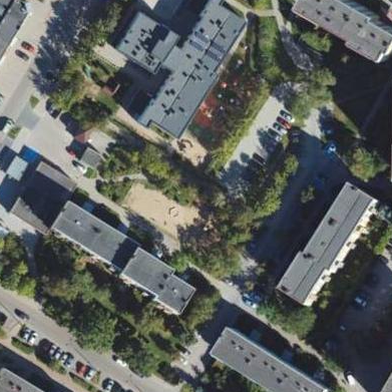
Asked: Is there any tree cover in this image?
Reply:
Yes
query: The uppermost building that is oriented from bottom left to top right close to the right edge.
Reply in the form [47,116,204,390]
[277,182,382,306]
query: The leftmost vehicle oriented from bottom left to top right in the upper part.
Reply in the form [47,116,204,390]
[1,119,16,136]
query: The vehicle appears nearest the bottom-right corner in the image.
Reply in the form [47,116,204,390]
[343,371,357,388]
